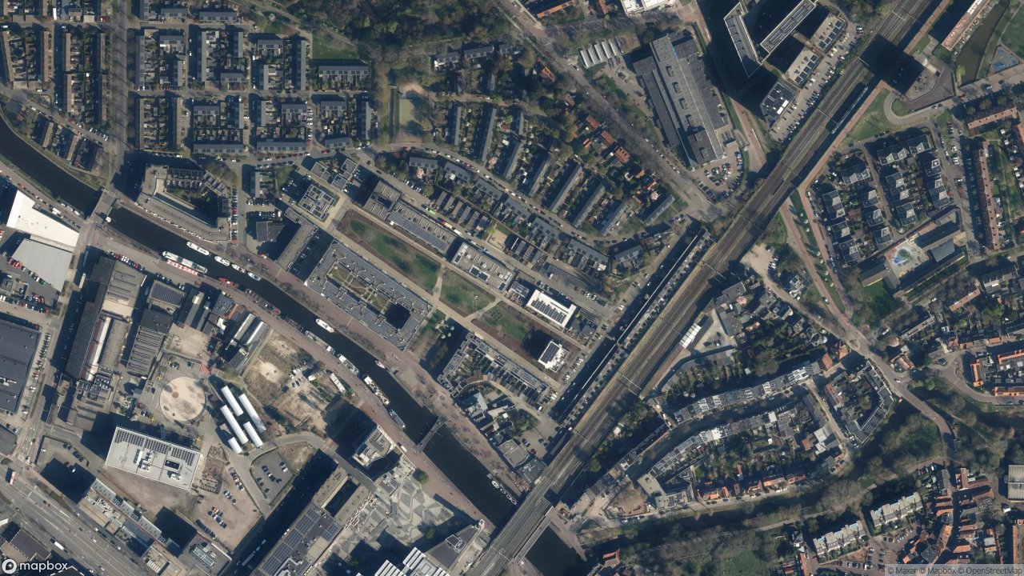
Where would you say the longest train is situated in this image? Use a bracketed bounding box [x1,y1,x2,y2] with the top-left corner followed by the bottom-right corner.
[833,87,867,132]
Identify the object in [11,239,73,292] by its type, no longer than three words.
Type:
building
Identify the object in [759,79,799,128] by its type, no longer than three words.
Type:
building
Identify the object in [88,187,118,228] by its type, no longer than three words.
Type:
bridge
